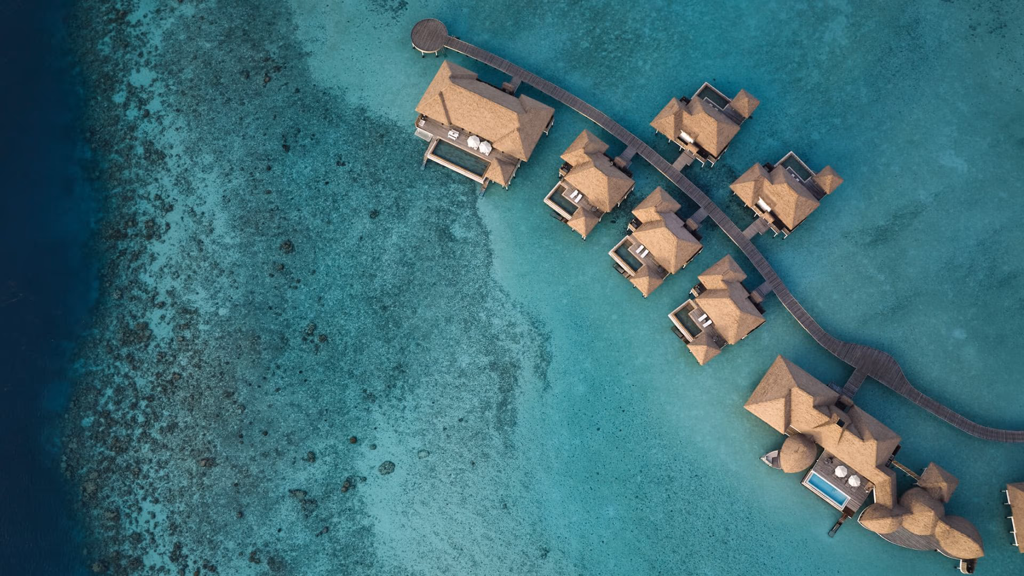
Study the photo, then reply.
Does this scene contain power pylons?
No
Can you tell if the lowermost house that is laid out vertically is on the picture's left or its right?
right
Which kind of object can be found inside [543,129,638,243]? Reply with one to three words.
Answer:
house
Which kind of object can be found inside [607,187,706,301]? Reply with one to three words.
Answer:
house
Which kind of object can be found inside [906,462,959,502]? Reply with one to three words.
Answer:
shed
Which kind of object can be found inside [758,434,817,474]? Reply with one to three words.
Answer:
building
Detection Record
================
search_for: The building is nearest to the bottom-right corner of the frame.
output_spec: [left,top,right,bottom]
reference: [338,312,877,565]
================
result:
[996,483,1024,553]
